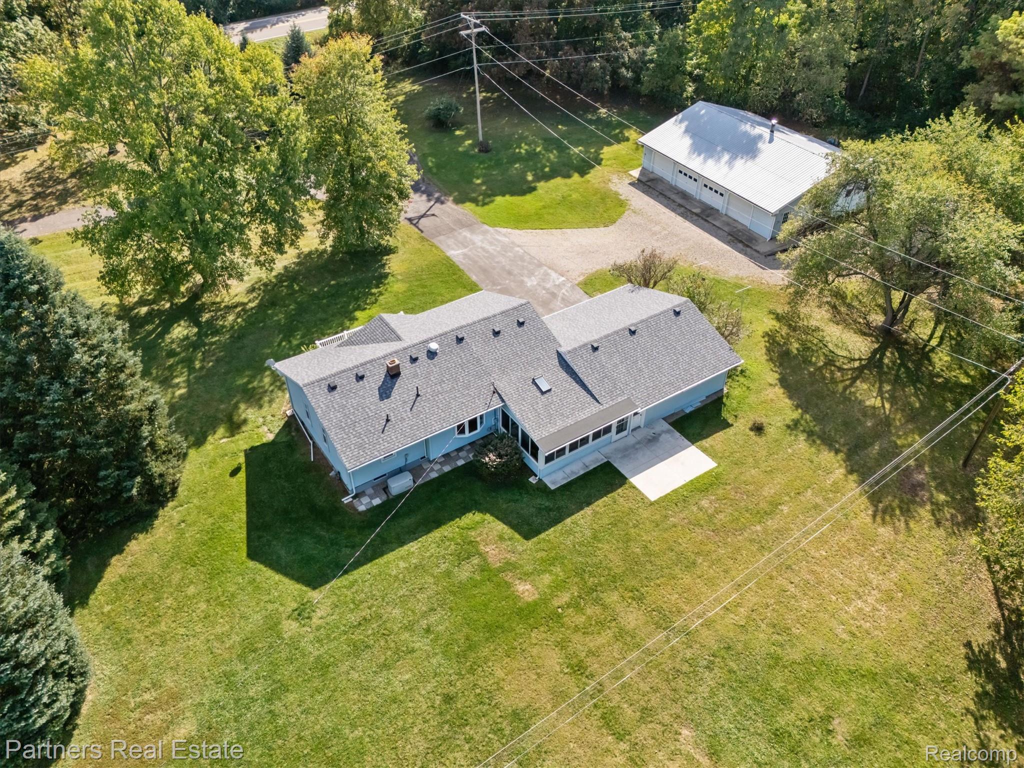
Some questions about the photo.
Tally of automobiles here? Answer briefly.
0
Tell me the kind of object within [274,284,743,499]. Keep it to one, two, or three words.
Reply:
house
